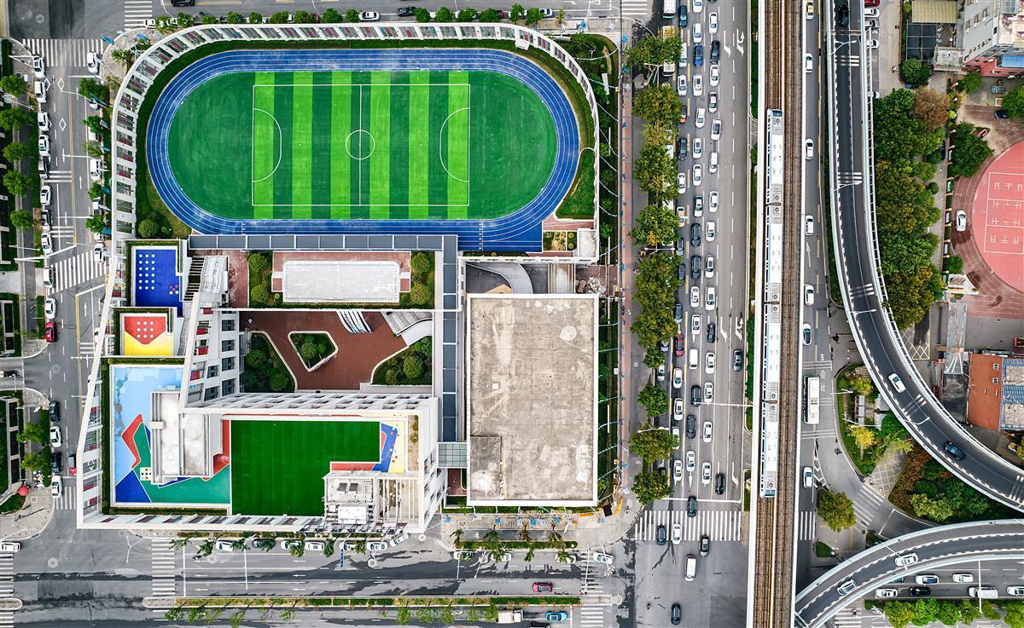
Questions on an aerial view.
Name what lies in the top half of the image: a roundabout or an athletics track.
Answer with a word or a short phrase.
athletics track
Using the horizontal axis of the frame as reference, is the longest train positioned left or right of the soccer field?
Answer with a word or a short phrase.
on its right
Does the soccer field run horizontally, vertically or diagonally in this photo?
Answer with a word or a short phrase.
horizontally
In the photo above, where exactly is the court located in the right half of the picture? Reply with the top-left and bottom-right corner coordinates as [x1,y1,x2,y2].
[973,141,1024,295]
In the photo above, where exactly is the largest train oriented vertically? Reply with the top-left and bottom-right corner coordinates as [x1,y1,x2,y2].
[758,110,780,496]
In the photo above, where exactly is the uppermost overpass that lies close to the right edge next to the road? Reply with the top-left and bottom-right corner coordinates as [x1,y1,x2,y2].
[824,0,1024,512]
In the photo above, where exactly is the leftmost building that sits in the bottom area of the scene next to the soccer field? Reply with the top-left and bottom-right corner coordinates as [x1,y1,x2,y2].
[76,240,438,532]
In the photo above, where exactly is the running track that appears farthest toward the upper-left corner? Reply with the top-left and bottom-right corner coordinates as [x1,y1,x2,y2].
[144,46,581,252]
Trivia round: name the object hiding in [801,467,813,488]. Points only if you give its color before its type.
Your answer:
white vehicle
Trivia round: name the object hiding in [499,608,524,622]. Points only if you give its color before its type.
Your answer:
white vehicle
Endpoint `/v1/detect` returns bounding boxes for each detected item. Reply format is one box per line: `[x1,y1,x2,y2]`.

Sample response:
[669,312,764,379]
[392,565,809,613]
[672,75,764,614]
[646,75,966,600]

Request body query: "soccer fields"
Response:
[168,70,557,219]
